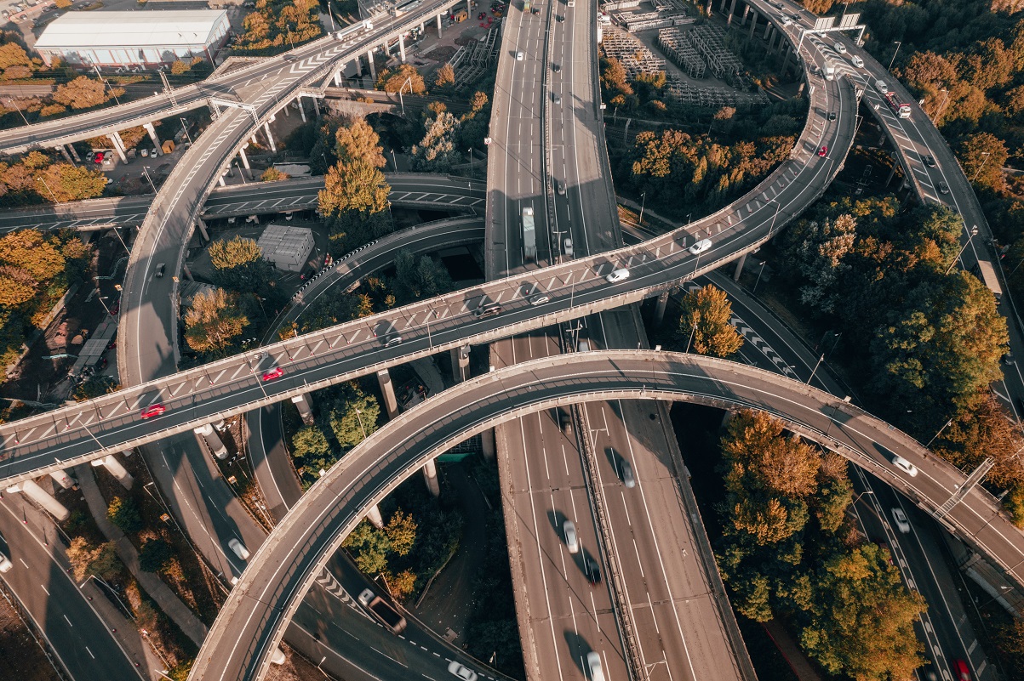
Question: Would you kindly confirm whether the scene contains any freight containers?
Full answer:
Yes, you can see a freight container in this photo.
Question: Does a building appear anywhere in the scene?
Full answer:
Yes, the picture does show a building.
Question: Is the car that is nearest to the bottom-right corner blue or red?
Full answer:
The car that is nearest to the bottom-right corner is red.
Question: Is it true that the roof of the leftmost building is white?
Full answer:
Yes, the roof of the leftmost building is white.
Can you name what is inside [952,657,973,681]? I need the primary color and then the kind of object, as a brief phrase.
red car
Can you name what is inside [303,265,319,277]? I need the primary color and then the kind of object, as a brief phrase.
black vehicle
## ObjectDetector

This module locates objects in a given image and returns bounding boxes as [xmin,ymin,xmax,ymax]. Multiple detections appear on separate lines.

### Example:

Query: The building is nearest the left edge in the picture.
[37,11,231,63]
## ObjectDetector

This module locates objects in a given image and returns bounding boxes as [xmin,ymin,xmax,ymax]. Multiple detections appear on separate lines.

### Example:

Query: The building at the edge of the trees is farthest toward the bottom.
[253,226,315,276]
